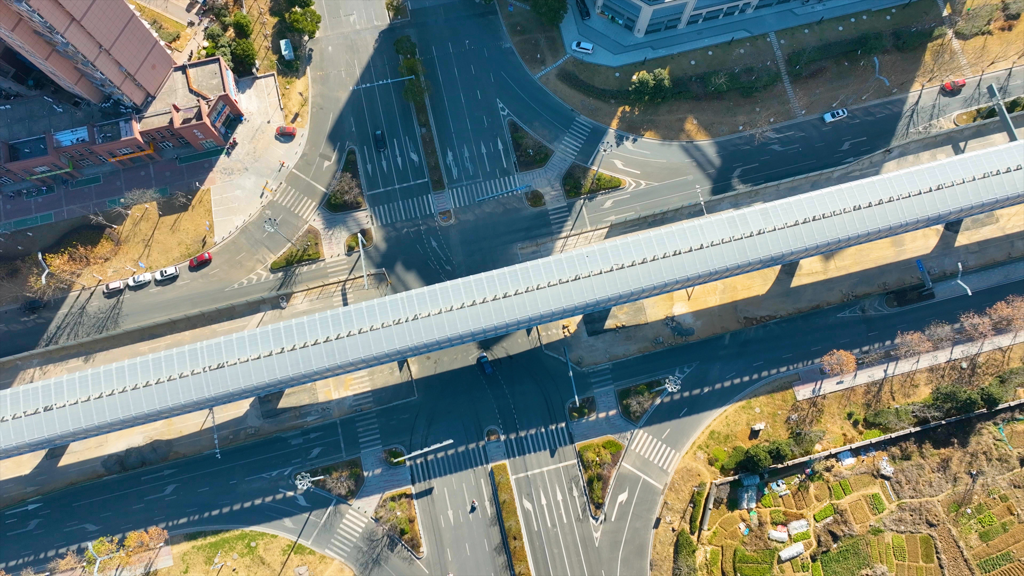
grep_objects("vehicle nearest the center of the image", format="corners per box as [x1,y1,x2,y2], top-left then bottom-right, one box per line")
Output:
[478,351,494,375]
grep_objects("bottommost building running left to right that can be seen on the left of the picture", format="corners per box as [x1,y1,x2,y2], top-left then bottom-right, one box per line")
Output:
[0,55,256,202]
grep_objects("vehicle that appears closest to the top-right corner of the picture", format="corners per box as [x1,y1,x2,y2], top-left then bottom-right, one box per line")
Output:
[942,80,965,94]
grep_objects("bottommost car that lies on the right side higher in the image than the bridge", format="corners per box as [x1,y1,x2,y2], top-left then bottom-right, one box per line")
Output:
[823,109,847,123]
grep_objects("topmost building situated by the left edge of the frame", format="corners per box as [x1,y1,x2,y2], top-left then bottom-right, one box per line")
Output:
[0,0,174,108]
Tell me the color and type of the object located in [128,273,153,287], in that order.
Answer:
white car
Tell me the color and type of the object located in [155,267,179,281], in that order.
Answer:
white car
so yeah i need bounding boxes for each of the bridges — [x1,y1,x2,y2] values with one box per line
[0,135,1024,460]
